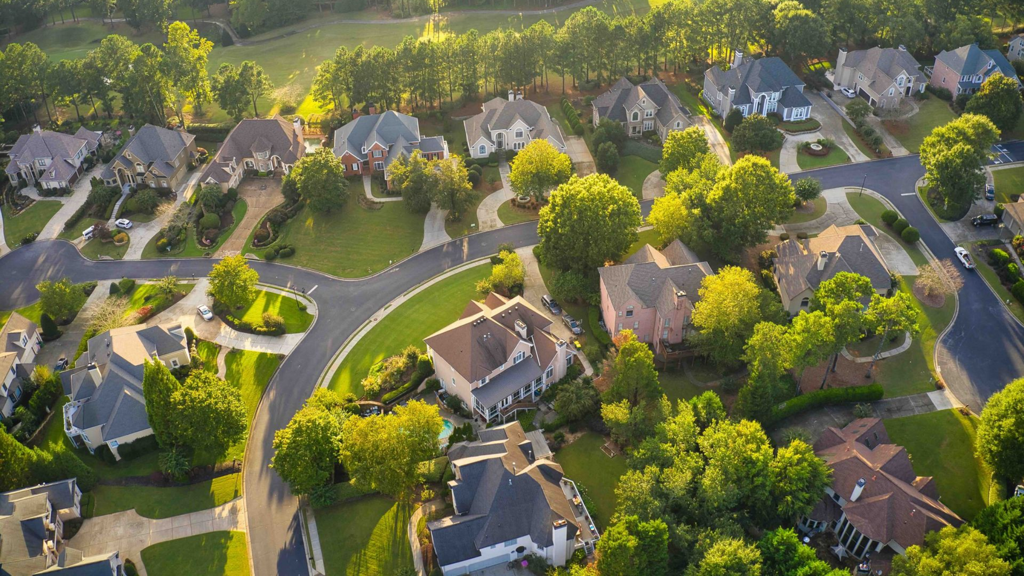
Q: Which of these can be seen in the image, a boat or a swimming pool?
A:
swimming pool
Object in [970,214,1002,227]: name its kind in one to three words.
vehicle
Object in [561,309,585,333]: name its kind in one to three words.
car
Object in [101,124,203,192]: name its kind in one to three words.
house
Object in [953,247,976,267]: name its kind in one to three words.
vehicle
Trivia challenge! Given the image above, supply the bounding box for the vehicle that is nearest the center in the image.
[541,291,563,314]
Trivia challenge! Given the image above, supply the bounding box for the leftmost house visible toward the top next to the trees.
[6,125,109,194]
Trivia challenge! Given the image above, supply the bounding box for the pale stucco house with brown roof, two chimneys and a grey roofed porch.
[420,281,576,422]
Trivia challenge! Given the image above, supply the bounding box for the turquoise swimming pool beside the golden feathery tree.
[415,417,454,449]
